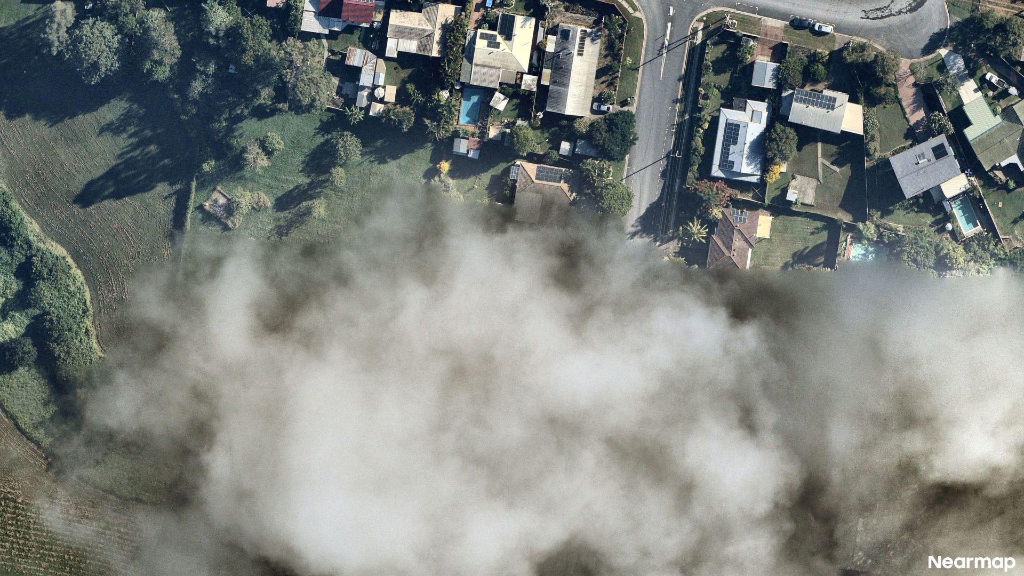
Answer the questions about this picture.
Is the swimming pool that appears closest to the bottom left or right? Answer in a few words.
right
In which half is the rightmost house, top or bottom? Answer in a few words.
top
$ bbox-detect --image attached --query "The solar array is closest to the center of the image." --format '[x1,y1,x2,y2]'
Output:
[535,166,563,183]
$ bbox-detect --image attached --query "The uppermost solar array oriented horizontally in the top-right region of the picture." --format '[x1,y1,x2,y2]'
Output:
[794,89,836,110]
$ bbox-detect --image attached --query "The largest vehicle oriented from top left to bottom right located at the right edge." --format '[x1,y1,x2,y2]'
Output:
[986,72,1008,90]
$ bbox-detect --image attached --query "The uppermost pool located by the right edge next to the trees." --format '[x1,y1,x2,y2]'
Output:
[950,193,993,235]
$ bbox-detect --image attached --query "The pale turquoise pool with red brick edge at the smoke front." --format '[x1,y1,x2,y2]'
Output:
[844,235,890,268]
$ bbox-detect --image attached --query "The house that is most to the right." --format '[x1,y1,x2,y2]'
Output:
[962,96,1024,172]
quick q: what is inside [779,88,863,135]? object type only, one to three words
house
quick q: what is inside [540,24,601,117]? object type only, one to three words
house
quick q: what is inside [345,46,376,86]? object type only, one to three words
shed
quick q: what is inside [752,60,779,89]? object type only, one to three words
building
